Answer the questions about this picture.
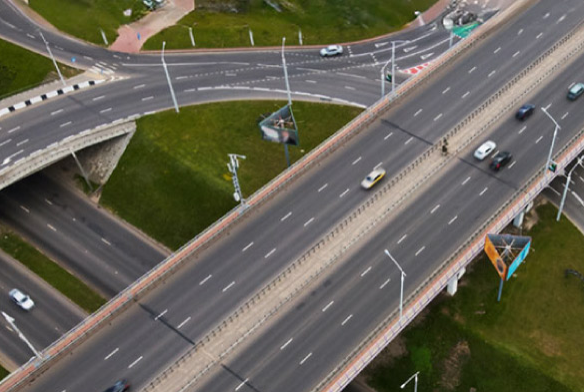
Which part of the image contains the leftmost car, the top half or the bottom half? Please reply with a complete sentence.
You can find the leftmost car in the bottom half.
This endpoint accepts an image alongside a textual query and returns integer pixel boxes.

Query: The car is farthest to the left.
[5,287,34,311]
